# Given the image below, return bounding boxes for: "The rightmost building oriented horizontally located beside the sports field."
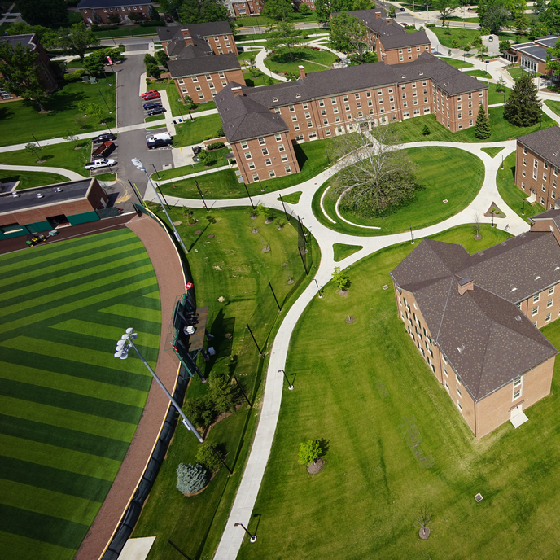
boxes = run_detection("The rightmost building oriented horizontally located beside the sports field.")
[212,51,490,188]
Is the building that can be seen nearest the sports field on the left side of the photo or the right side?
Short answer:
left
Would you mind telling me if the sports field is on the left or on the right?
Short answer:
left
